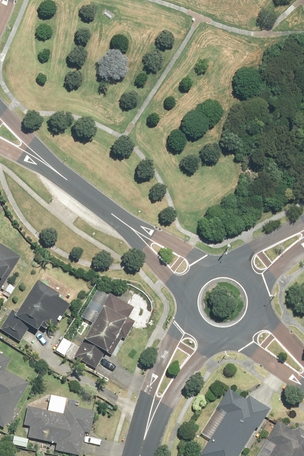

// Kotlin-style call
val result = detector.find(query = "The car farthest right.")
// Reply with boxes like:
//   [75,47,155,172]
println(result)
[100,358,115,370]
